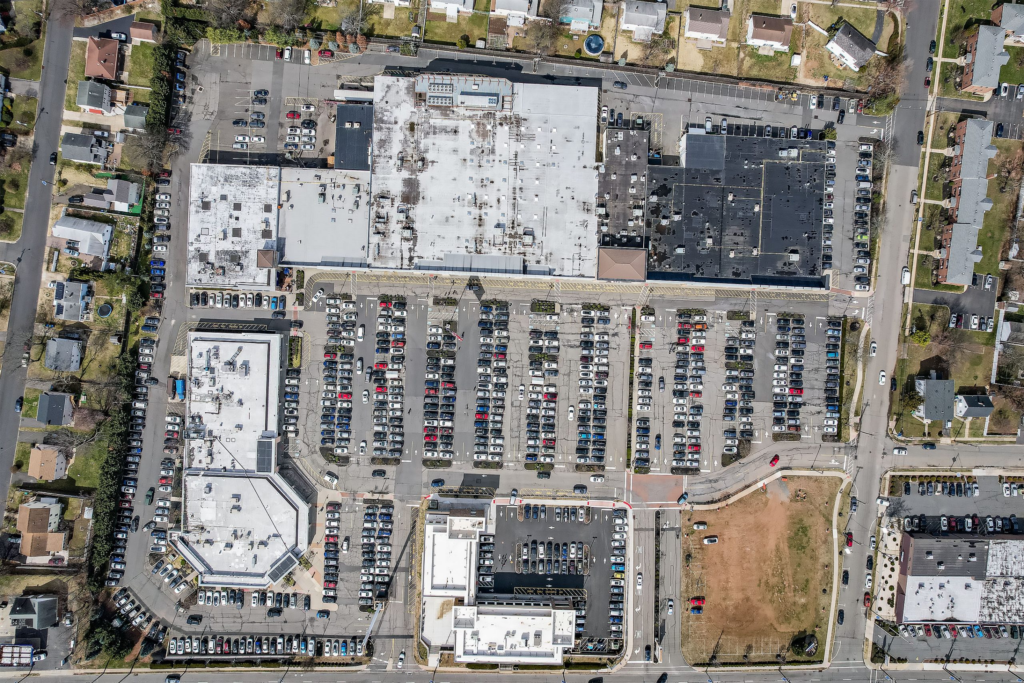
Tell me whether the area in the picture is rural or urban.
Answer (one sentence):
From above, the setting appears urban.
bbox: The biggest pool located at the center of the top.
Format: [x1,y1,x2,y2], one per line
[585,33,604,54]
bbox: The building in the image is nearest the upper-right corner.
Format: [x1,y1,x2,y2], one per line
[983,1,1024,42]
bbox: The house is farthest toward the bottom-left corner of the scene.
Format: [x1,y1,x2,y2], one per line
[15,589,69,633]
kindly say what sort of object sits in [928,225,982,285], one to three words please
building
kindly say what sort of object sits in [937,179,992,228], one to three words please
building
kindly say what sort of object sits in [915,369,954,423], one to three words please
house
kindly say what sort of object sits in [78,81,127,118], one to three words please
house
